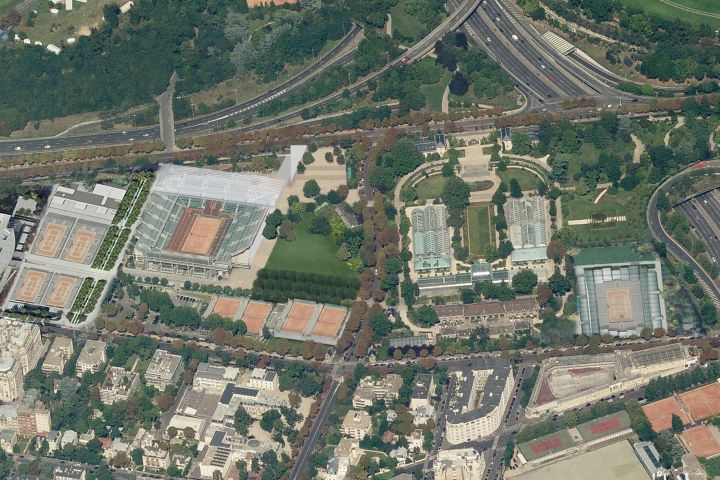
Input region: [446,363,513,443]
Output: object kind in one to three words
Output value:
building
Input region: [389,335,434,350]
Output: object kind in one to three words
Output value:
greenhouse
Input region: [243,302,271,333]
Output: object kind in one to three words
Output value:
tennis court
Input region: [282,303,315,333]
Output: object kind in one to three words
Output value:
tennis court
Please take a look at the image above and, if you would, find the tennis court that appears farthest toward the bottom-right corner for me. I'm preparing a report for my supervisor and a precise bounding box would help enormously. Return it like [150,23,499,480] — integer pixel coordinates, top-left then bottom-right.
[685,424,720,457]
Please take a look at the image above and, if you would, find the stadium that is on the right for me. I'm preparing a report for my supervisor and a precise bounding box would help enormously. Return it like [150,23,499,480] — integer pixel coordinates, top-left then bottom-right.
[574,261,670,341]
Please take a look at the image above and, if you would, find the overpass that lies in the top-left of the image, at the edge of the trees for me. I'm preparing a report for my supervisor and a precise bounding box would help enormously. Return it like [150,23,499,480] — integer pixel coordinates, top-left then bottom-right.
[162,65,179,157]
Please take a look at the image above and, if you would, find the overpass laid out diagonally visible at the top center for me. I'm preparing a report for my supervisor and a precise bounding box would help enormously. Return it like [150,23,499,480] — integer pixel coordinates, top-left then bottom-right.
[323,0,480,103]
